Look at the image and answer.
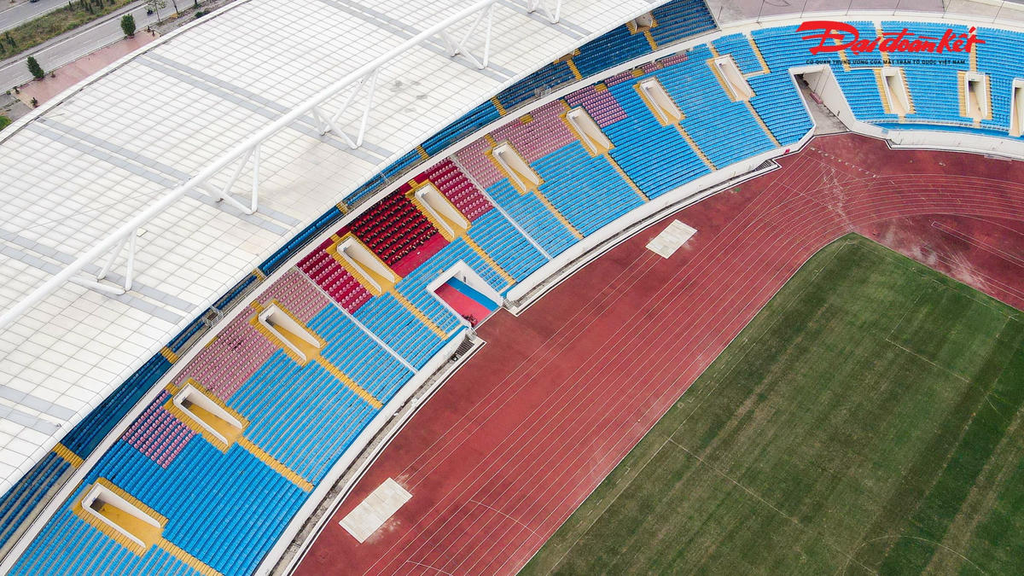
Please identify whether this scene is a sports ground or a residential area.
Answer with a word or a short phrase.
sports ground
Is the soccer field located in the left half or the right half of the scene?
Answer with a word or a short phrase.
right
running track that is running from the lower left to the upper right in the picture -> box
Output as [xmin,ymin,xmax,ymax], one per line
[281,134,1024,576]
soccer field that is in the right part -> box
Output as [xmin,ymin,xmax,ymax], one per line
[519,232,1024,576]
